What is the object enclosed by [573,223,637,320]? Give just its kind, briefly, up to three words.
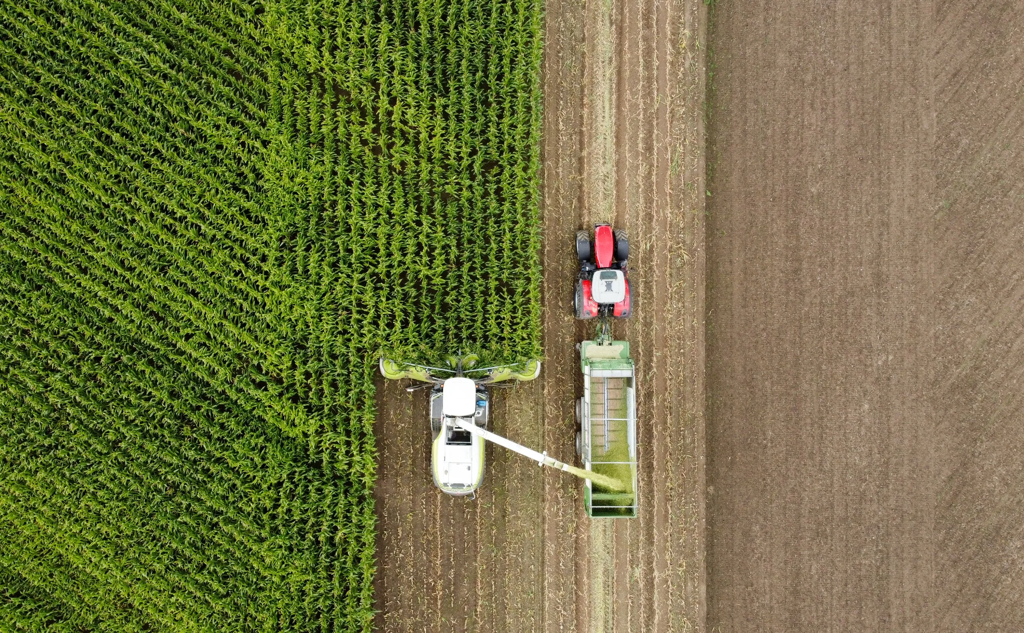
work vehicle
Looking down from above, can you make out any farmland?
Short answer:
Yes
